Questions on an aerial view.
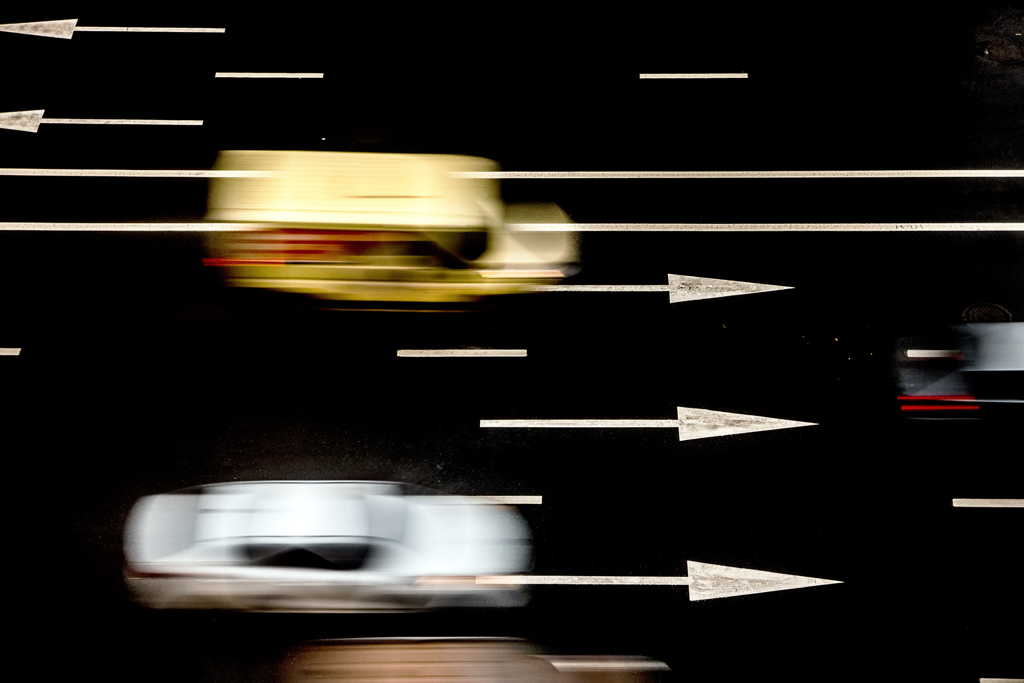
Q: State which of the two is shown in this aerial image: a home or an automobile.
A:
automobile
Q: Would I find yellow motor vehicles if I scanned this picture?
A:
Yes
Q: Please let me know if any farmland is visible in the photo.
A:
No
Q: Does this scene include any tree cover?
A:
No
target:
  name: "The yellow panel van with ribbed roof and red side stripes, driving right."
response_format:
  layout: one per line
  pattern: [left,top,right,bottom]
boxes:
[210,148,579,313]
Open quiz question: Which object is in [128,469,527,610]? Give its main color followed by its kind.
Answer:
white car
